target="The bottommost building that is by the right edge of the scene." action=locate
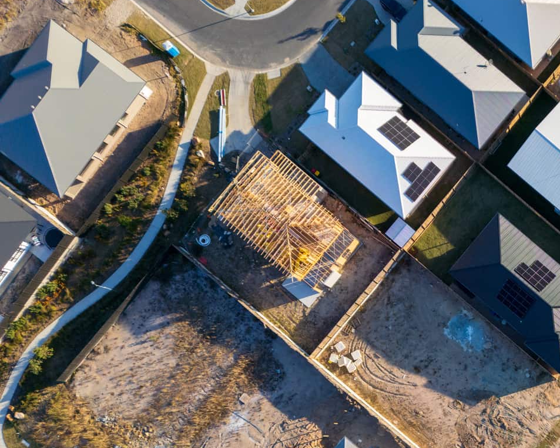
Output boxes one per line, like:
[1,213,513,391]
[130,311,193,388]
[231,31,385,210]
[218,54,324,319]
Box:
[448,212,560,372]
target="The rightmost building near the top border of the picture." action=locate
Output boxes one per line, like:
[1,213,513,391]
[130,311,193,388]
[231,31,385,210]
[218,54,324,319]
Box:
[450,0,560,71]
